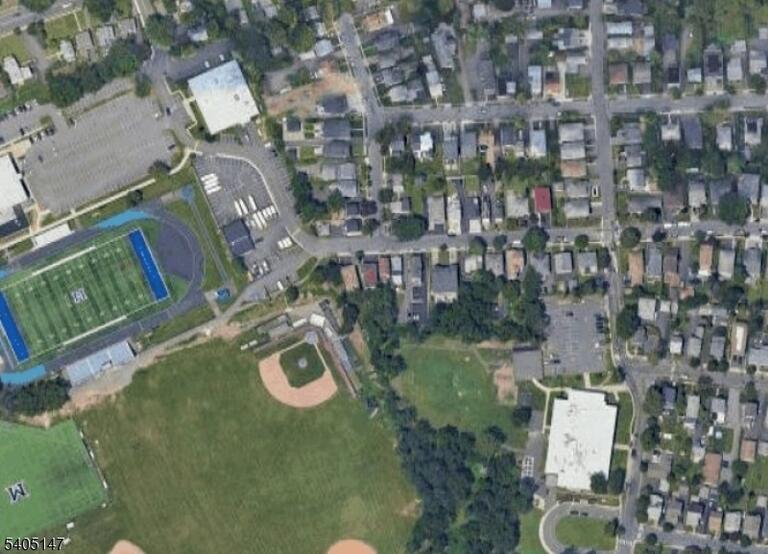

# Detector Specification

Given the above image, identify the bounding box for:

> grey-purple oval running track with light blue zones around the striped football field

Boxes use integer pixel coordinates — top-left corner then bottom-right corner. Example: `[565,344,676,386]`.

[0,209,206,385]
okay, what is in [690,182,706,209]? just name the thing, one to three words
house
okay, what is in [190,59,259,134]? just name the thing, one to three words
building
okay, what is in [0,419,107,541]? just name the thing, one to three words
sports field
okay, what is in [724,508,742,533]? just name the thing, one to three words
house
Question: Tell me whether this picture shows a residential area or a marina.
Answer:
residential area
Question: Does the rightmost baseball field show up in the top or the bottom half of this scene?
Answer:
bottom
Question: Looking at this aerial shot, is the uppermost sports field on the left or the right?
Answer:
left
